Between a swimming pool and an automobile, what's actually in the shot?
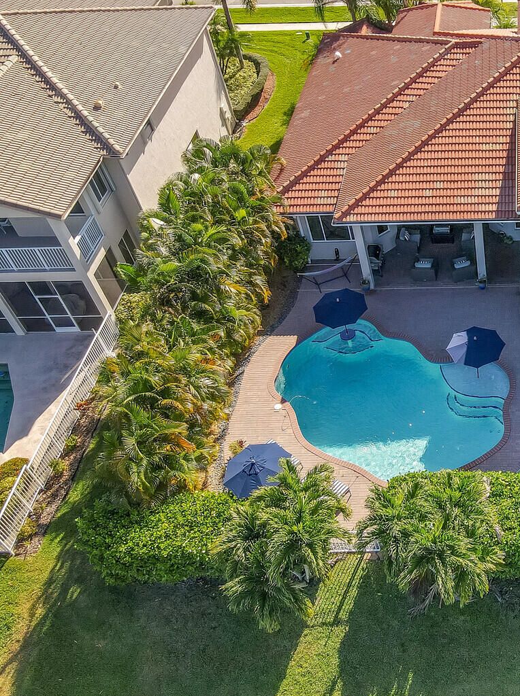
swimming pool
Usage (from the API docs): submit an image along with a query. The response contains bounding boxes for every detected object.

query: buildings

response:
[262,0,520,292]
[0,0,240,333]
